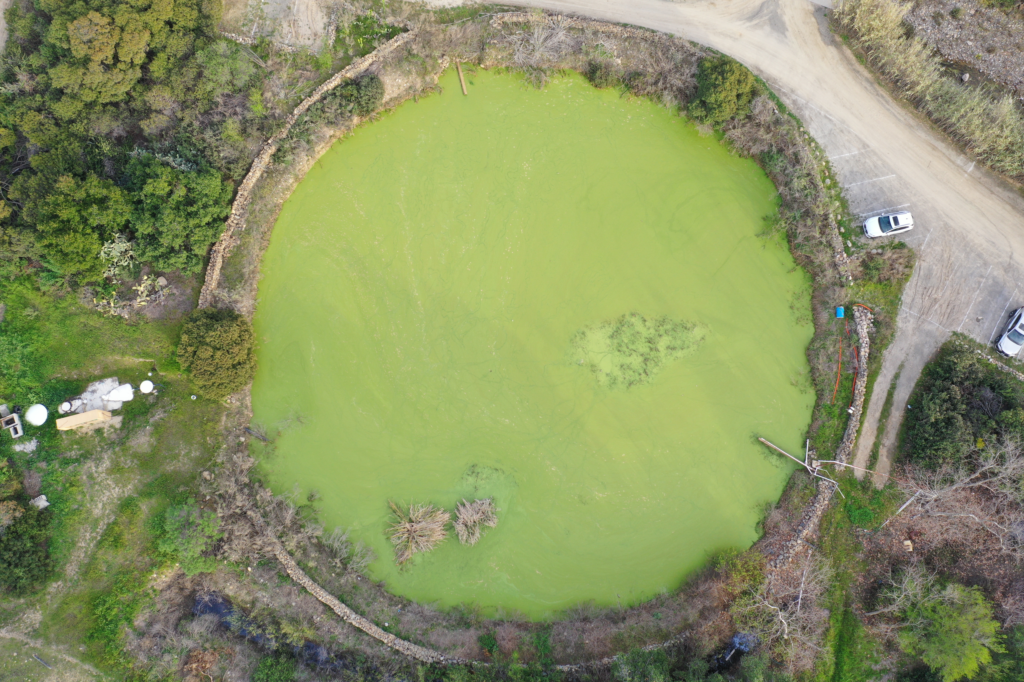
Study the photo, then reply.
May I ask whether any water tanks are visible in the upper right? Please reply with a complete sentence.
No, looking in the upper right, there is no water tank.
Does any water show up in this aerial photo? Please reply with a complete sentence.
Yes, some water is visible.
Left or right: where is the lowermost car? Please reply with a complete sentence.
The lowermost car appears in the right half of the scene.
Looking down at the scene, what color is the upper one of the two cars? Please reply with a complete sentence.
From above, the upper one of the two cars appears white.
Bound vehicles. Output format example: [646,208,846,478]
[996,305,1024,356]
[861,208,918,239]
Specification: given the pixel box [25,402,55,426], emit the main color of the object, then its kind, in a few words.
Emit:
white water tank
